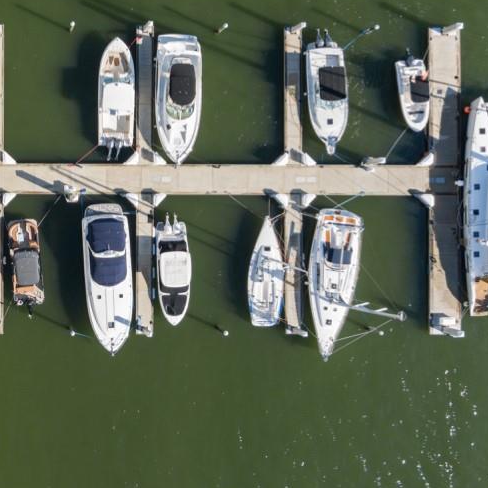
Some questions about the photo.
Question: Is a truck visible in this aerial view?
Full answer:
No, there appears to be no truck in this shot.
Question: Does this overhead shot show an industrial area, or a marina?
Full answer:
What you see here is a marina.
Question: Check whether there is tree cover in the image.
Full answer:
No, no tree cover is visible.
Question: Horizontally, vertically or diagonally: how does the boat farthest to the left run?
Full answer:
What the image shows is the boat farthest to the left lying vertically.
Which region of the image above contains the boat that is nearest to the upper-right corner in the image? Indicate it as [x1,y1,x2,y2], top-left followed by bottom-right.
[394,45,431,132]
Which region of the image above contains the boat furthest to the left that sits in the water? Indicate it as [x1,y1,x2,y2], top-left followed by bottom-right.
[9,218,43,320]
